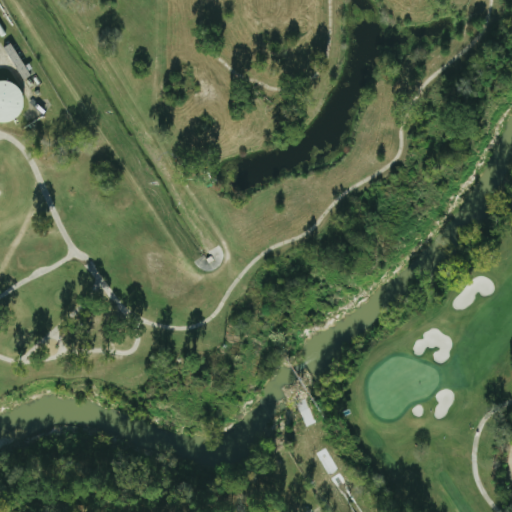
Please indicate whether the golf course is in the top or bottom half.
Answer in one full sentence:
The golf course sits in the bottom half of the picture.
